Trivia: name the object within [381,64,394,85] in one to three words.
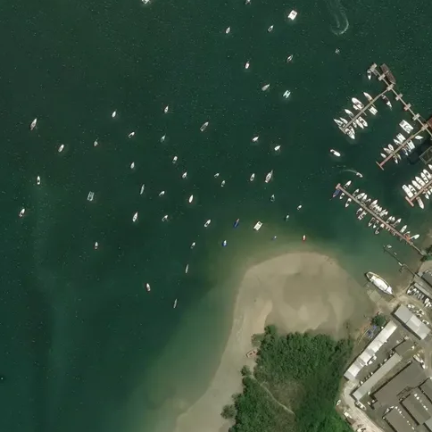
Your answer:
boat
